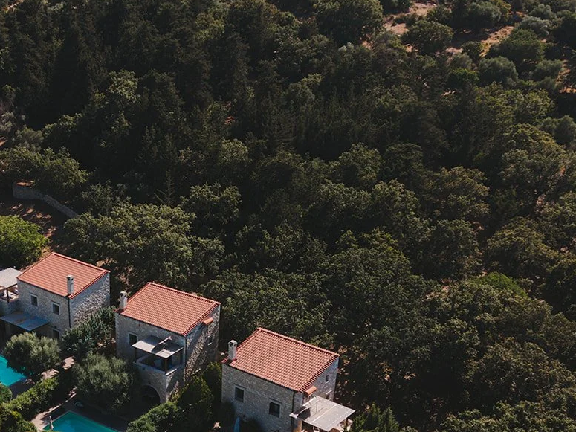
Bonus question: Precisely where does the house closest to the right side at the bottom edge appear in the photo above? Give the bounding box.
[216,325,345,432]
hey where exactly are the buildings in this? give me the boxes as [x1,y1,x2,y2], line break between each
[111,280,225,403]
[0,249,113,366]
[216,325,345,432]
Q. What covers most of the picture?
trees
